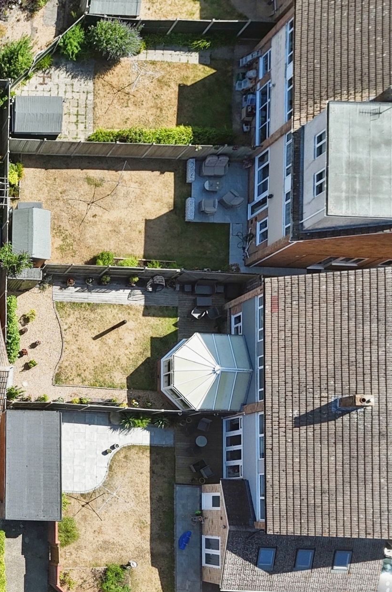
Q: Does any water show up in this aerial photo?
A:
No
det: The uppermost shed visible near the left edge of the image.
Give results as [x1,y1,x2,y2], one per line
[11,97,64,139]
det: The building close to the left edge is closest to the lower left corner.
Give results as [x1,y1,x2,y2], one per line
[0,410,62,521]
